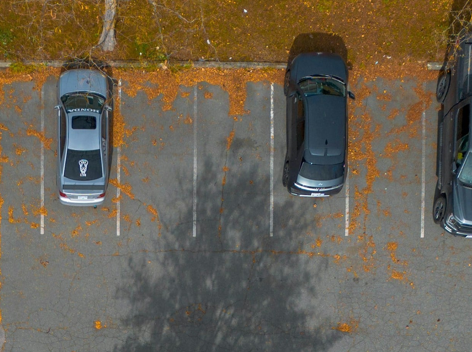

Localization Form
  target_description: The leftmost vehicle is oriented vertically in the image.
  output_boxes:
[52,69,115,210]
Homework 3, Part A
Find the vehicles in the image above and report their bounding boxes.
[52,69,115,210]
[282,54,355,195]
[438,32,472,236]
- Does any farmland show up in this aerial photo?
No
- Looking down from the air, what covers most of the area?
paved ground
